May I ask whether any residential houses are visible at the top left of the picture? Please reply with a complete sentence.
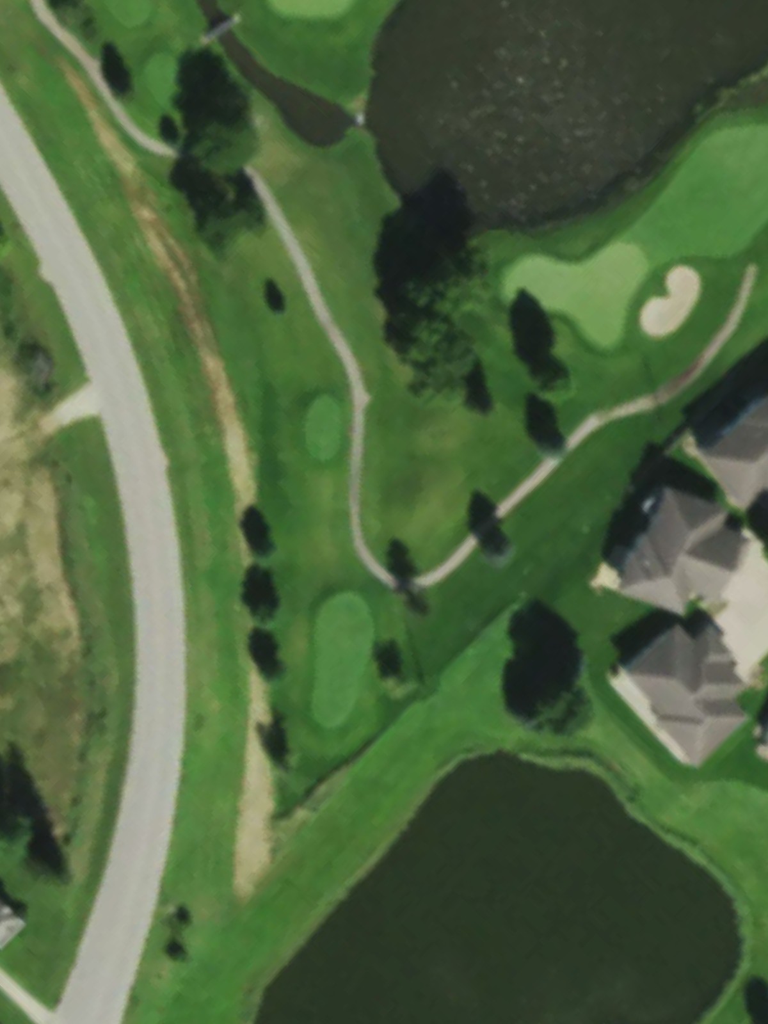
No, the scene shows no residential house at the top left of the picture.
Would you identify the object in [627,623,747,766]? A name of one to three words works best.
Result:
house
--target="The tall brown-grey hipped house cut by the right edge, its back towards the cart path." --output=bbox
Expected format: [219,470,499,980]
[702,401,768,510]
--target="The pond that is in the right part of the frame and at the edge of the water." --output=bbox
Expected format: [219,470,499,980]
[254,750,741,1024]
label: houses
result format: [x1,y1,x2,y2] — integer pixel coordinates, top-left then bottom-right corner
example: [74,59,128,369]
[0,897,25,948]
[620,488,746,614]
[702,401,768,510]
[627,623,747,766]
